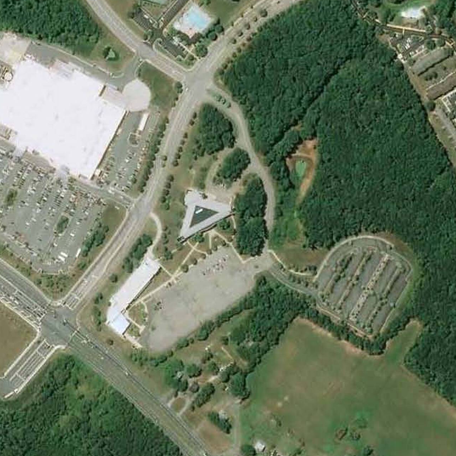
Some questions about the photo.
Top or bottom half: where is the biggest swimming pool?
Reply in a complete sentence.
You can find the biggest swimming pool in the top half.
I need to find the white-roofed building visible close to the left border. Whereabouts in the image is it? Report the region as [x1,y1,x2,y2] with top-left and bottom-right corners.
[0,59,127,181]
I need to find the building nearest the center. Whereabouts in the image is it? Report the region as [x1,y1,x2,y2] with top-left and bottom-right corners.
[178,189,236,244]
